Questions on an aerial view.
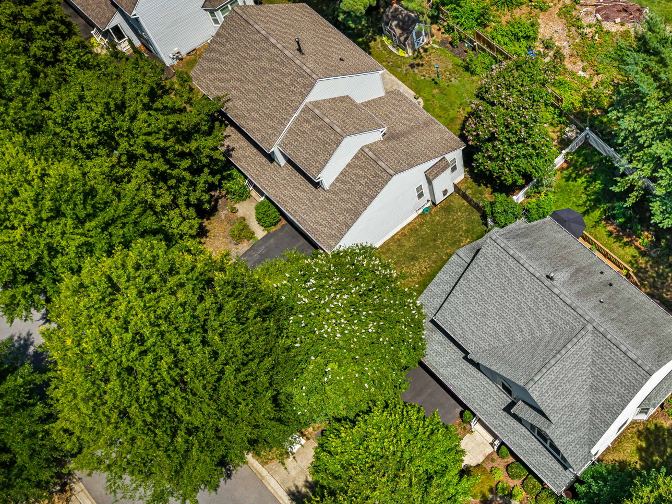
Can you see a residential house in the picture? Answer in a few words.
Yes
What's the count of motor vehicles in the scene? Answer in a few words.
0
